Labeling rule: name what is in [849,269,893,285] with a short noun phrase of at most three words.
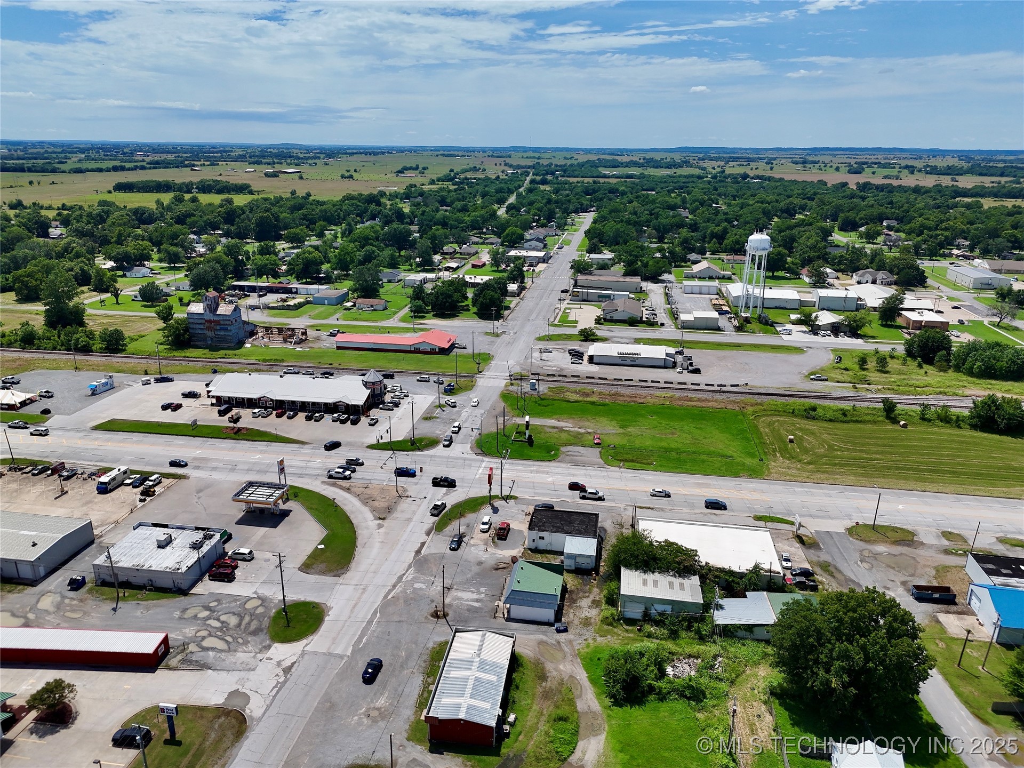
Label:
house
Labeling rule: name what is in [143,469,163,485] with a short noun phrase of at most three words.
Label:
car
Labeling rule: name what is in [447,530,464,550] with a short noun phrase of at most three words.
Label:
vehicle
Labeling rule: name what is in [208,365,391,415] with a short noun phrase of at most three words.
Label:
building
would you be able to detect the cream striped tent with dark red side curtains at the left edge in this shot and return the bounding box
[0,381,37,410]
